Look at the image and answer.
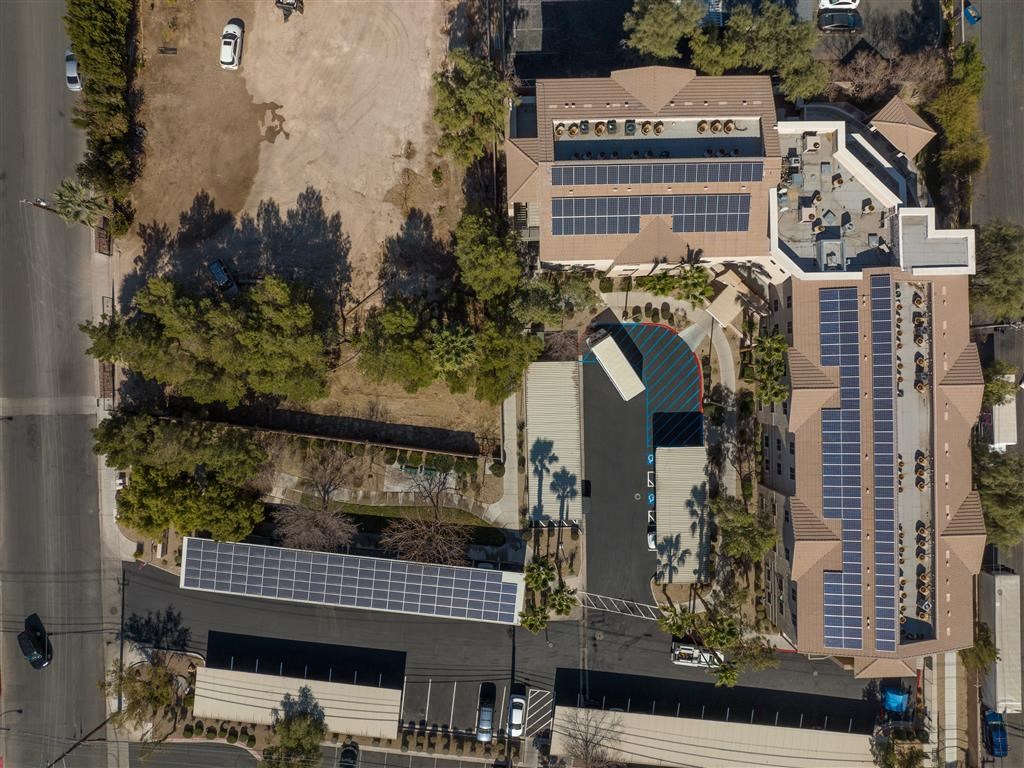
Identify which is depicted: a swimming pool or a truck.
truck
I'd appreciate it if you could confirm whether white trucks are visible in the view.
Yes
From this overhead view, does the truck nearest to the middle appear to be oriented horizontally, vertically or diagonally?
diagonally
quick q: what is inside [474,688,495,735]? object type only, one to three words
car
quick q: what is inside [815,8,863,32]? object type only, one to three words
car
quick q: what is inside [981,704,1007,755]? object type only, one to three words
truck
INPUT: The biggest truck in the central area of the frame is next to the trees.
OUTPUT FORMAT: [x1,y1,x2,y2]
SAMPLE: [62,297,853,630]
[583,328,644,400]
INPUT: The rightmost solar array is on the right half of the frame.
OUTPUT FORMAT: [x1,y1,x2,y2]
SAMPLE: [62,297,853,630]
[871,274,896,652]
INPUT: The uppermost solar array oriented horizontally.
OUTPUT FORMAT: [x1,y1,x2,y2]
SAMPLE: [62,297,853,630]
[552,163,764,186]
